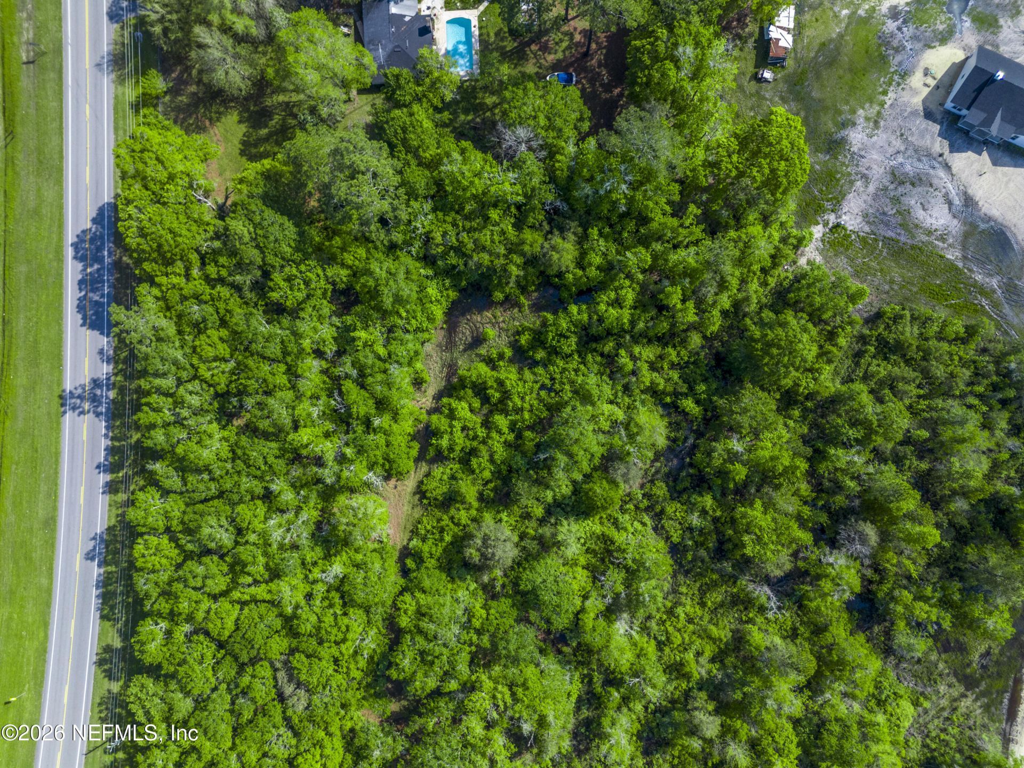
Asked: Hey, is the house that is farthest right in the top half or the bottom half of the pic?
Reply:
top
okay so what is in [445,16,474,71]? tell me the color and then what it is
blue swimming pool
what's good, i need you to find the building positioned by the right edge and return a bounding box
[945,43,1024,144]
